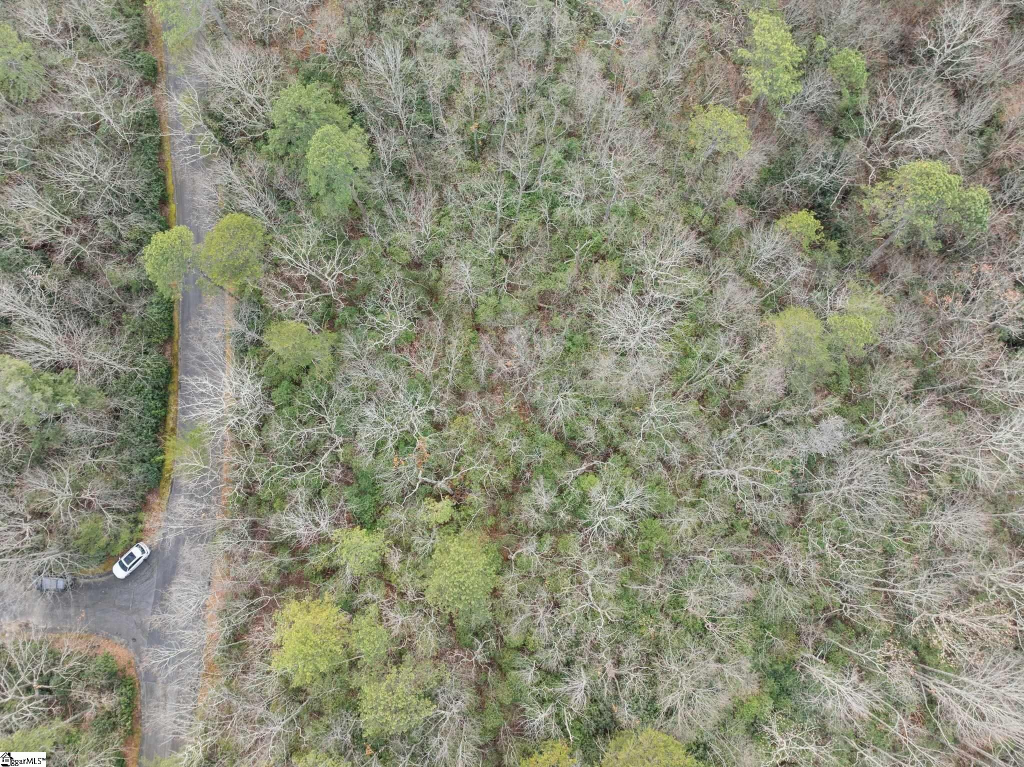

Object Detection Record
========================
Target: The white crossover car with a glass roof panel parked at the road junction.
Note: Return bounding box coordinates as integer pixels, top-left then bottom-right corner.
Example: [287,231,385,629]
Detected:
[114,543,151,577]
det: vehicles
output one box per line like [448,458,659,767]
[114,543,151,577]
[35,574,74,594]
